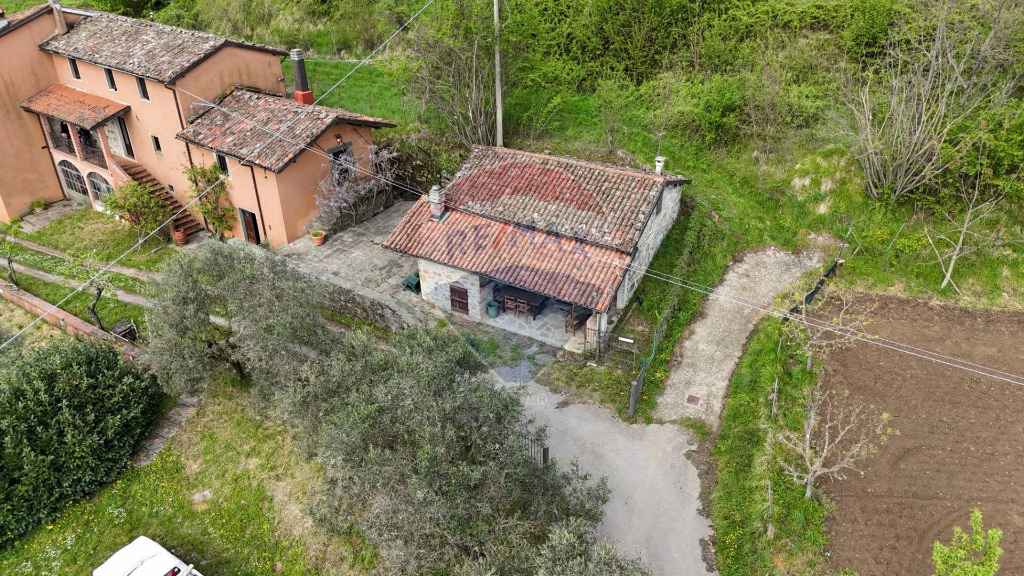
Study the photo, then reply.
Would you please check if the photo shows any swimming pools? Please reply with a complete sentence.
No, no swimming pool is visible in the scene.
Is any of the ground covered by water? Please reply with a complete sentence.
No, there is no water in the image.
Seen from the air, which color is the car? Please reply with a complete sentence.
From above, the car appears white.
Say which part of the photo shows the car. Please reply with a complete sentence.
The car sits in the bottom left section of the image.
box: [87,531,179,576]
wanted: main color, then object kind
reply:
white car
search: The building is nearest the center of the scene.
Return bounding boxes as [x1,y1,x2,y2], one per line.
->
[381,143,695,366]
